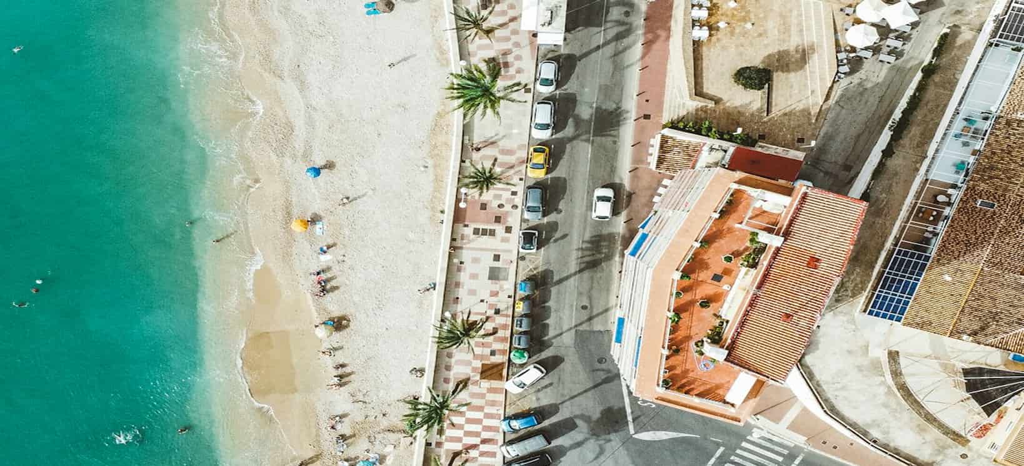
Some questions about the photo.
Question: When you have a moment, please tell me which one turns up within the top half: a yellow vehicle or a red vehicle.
yellow vehicle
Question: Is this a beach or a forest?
beach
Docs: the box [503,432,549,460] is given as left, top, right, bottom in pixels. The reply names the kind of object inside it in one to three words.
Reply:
car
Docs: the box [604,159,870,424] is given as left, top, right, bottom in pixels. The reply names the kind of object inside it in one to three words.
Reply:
building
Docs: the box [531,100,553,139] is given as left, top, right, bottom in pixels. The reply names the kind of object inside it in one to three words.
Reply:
car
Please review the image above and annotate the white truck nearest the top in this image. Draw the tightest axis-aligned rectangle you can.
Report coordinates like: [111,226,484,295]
[522,0,564,37]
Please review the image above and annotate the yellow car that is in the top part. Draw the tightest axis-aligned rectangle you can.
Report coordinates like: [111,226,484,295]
[527,144,549,179]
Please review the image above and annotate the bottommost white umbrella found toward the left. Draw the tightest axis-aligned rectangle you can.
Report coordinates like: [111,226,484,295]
[316,322,334,337]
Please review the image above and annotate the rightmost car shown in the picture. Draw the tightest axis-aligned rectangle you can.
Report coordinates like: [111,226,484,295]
[592,186,615,220]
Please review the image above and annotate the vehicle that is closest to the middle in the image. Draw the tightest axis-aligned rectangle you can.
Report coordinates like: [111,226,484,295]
[518,229,538,253]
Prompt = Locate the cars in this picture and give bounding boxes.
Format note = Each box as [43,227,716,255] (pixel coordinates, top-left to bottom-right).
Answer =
[527,144,549,179]
[503,432,549,460]
[507,361,547,395]
[523,184,544,221]
[501,413,539,435]
[592,186,615,220]
[518,229,538,253]
[531,100,553,139]
[536,58,559,94]
[508,450,550,466]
